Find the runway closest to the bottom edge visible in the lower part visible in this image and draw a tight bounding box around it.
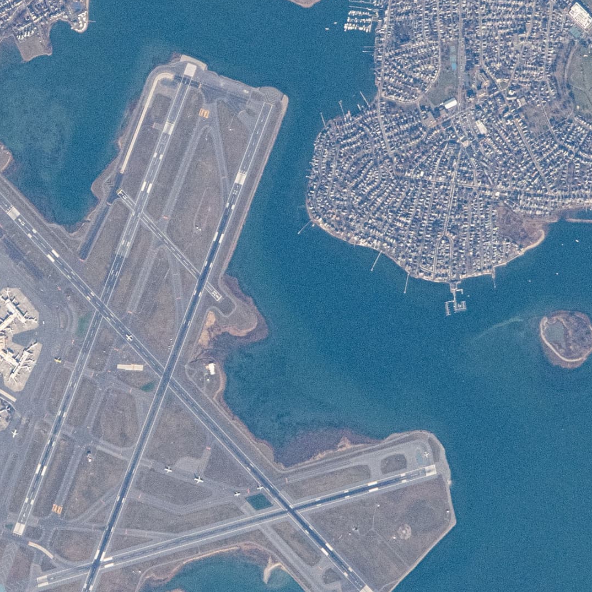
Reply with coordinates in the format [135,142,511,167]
[35,460,438,592]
